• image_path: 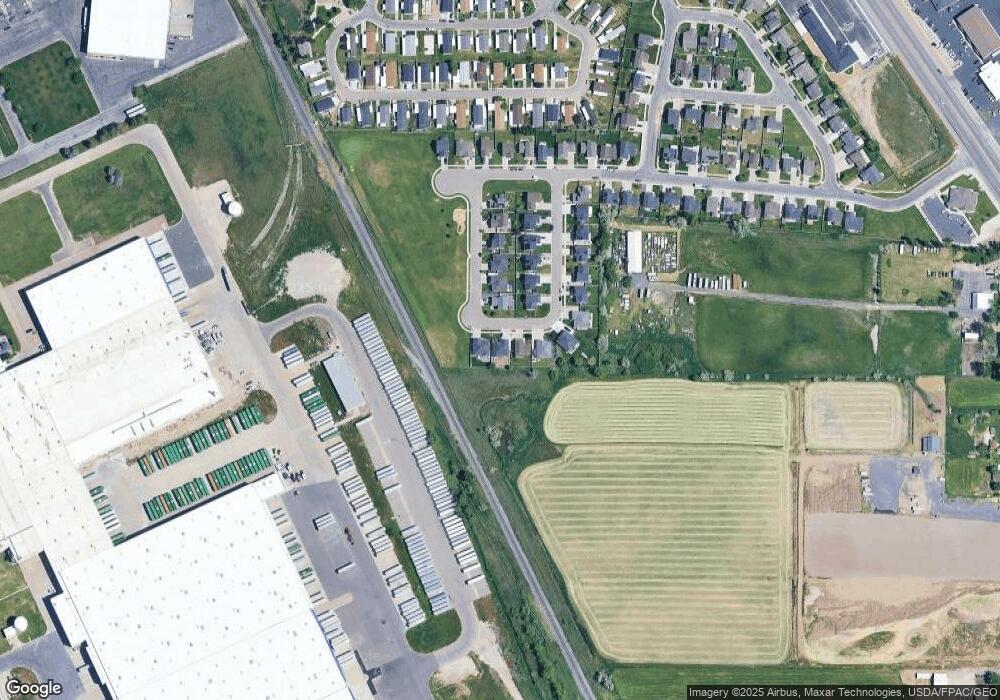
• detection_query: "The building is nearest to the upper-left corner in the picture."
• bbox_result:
[84,0,195,69]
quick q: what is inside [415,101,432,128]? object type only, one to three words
house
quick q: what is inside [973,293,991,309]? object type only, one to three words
building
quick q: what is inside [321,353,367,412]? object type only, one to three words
shed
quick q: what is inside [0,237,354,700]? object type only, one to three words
warehouse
